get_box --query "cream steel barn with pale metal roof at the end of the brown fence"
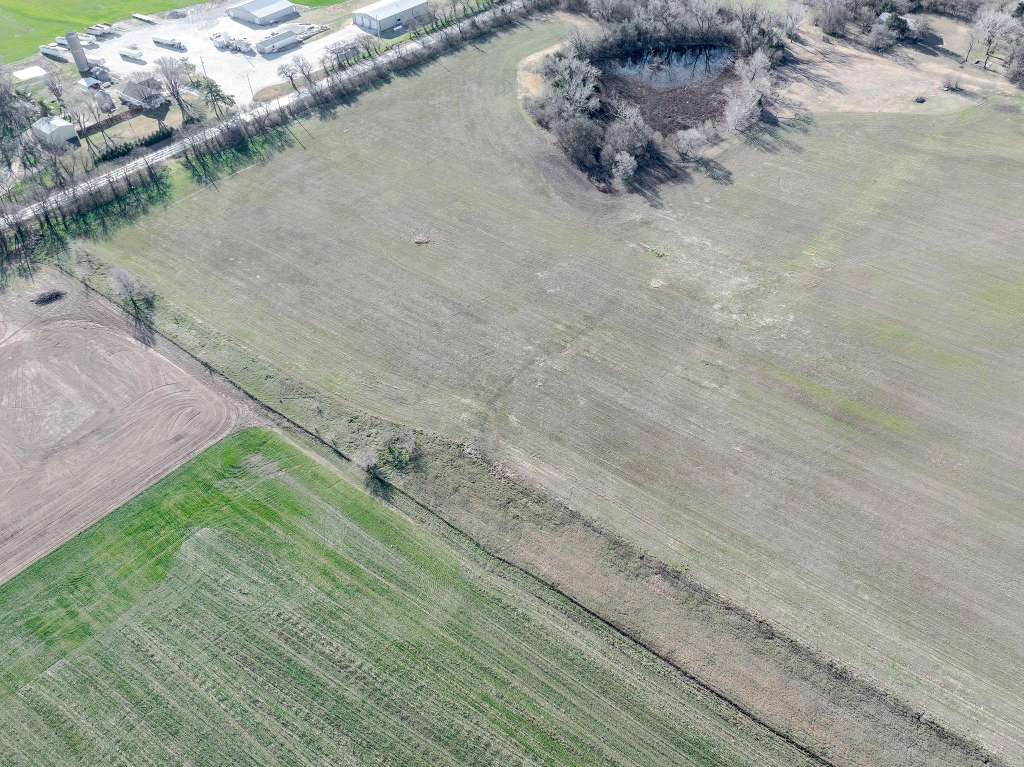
[28,112,78,143]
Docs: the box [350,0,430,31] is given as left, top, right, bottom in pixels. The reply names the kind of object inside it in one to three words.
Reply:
shed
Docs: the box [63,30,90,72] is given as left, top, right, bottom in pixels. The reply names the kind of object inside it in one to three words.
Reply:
silo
